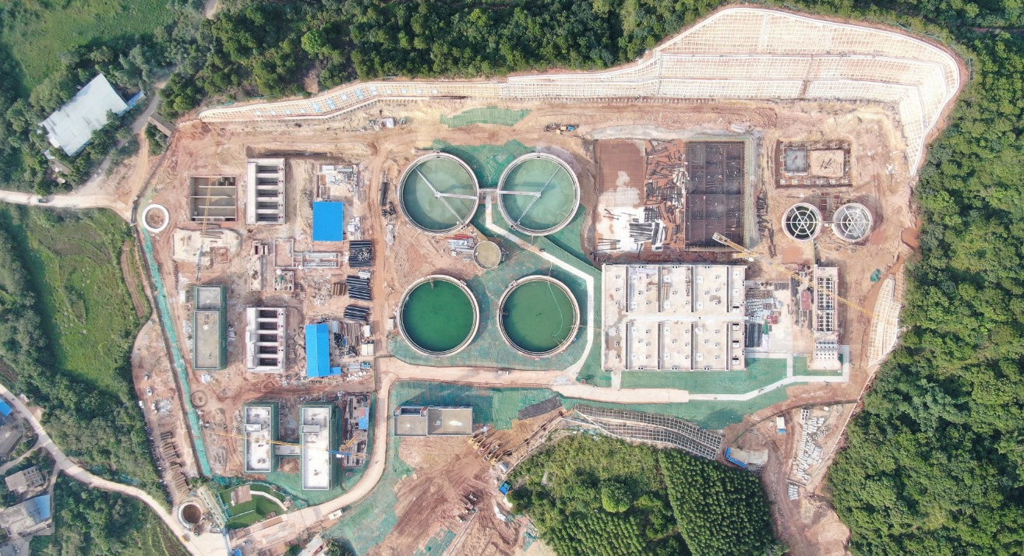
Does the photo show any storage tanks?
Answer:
Yes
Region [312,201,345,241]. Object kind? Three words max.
shed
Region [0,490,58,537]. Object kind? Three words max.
house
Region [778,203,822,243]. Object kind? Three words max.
storage tank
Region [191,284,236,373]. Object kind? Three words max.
building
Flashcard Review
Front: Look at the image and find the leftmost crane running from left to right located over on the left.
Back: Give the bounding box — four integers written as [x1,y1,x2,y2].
[208,430,370,458]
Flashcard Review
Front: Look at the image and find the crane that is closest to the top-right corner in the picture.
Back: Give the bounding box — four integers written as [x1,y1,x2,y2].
[711,234,874,317]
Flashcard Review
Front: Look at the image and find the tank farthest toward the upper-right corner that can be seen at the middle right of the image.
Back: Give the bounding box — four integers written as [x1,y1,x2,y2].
[828,202,872,242]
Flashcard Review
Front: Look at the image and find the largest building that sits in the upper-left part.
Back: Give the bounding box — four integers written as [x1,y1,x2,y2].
[41,73,134,156]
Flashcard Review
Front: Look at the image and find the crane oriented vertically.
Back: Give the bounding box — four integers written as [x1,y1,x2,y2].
[193,116,233,279]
